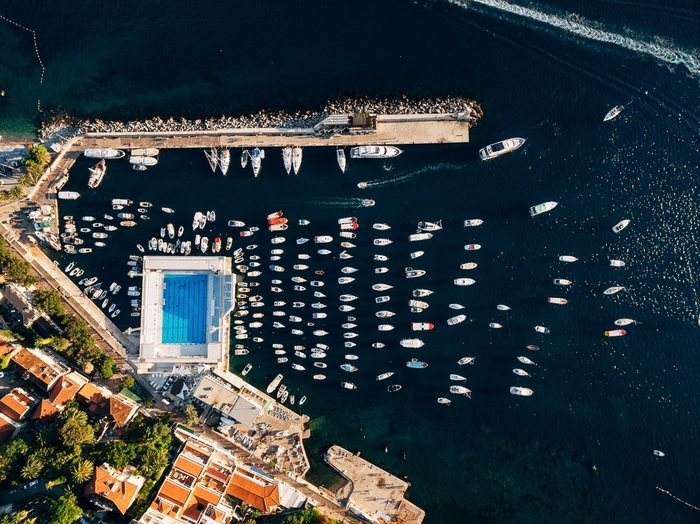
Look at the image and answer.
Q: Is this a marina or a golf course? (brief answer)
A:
marina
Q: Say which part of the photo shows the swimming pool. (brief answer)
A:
left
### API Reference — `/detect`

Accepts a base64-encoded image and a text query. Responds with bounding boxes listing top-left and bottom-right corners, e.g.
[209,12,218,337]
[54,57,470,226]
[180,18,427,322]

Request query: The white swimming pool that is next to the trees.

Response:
[141,256,237,372]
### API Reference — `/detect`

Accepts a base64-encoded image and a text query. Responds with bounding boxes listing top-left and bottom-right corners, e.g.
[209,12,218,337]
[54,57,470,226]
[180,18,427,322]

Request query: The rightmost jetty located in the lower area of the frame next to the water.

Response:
[327,445,427,524]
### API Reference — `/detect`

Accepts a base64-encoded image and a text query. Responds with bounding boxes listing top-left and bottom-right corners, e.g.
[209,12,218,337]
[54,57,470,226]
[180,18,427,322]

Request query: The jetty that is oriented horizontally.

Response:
[83,113,470,150]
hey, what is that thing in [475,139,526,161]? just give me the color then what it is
white boat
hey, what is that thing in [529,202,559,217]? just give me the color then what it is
white boat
